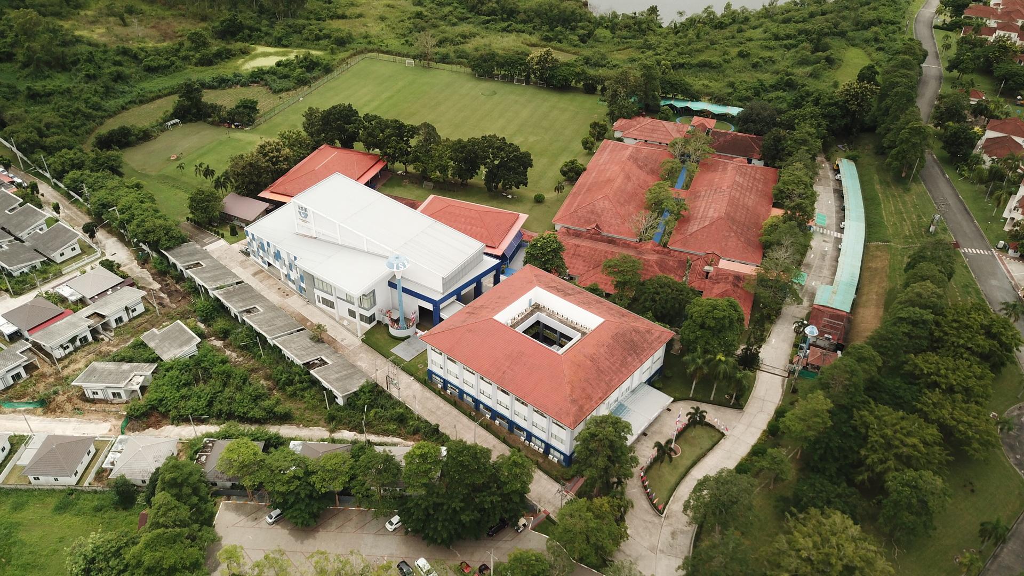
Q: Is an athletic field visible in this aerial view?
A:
Yes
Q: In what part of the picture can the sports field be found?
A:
top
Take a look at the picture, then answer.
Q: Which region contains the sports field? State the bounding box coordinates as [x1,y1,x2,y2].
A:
[259,57,608,213]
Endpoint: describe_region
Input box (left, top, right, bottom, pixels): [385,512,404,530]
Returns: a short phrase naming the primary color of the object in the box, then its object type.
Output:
white car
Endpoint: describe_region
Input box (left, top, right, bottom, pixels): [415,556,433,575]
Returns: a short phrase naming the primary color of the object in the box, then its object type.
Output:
white car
